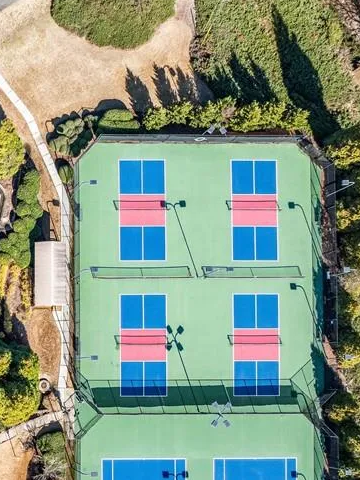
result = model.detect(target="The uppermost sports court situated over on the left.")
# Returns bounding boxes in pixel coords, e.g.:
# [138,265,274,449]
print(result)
[75,143,199,277]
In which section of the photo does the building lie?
left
